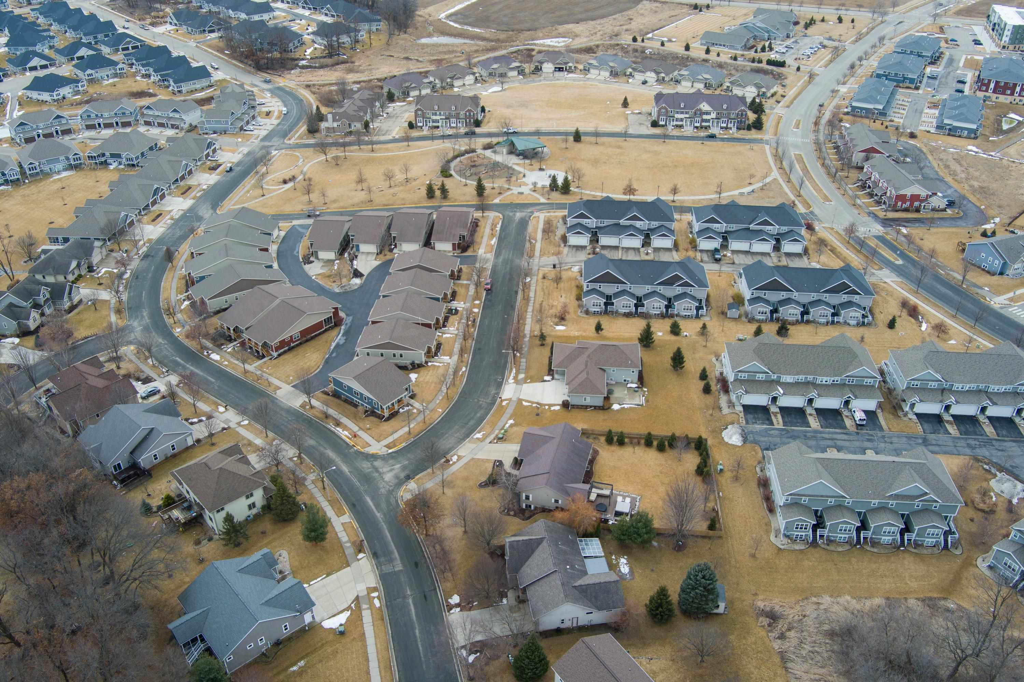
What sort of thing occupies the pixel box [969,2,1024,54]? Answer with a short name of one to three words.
building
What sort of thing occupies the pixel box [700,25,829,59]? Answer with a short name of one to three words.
building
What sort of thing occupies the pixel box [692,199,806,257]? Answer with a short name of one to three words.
house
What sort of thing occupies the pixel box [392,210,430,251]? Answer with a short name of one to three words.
house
